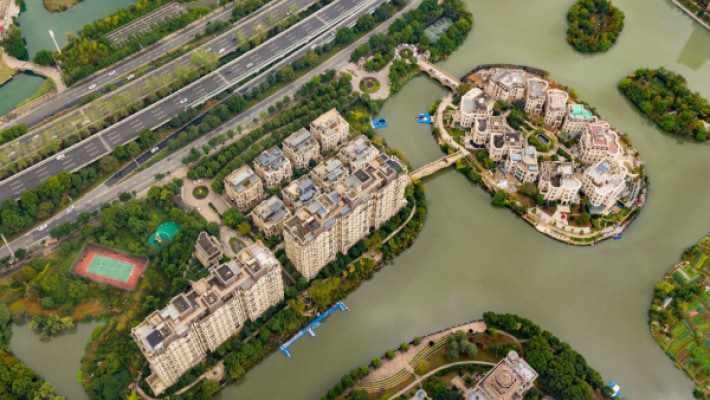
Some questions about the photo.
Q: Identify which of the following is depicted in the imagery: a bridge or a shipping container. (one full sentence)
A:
There is a bridge in the scene.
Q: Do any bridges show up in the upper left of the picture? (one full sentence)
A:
Yes, looking in the upper left of the picture, one can make out a bridge.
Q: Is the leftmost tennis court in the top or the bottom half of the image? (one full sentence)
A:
The bottom half of the photo is where the leftmost tennis court is.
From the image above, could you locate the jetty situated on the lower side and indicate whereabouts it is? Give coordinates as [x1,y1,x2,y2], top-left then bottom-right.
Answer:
[281,302,347,358]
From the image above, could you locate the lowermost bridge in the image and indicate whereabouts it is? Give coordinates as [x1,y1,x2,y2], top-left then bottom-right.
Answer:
[406,147,469,181]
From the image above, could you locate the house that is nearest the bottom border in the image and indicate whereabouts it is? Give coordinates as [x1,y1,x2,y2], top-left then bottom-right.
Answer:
[476,358,530,400]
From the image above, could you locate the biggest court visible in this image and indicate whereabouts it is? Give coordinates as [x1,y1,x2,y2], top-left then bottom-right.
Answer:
[71,241,147,289]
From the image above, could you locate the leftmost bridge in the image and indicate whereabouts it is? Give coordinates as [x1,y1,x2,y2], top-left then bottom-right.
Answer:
[0,51,66,94]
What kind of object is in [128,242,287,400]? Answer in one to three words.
building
